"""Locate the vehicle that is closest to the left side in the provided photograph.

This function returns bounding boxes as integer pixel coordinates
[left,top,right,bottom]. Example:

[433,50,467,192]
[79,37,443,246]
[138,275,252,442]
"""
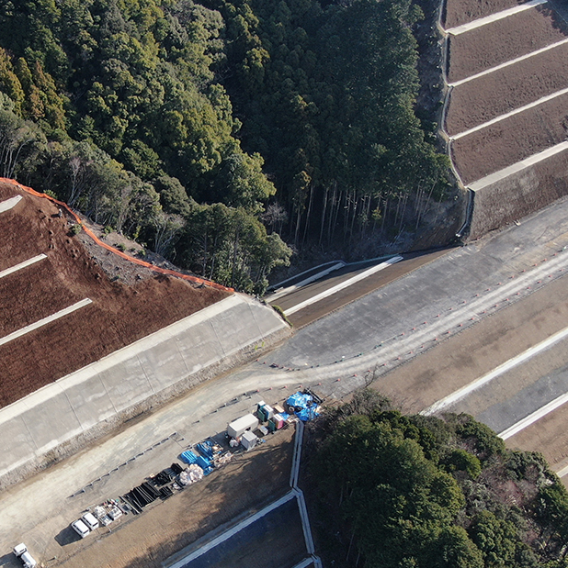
[10,540,37,568]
